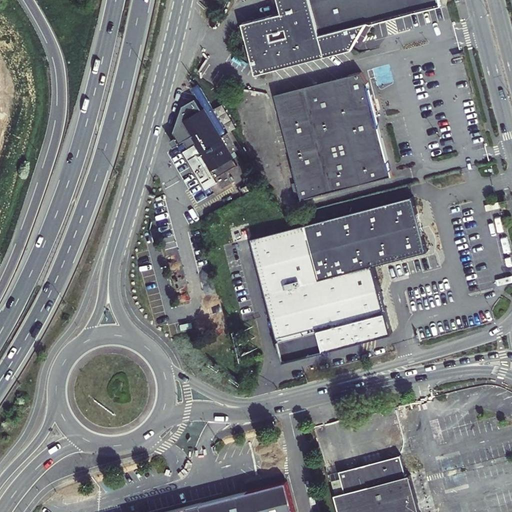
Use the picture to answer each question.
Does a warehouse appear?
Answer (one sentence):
Yes, the image includes a warehouse.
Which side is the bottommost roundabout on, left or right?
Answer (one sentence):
You can find the bottommost roundabout on the left side of the picture.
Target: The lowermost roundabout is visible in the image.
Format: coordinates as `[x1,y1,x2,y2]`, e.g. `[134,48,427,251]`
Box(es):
[50,330,172,450]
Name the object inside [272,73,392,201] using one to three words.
warehouse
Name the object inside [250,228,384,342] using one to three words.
building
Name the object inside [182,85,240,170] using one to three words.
building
